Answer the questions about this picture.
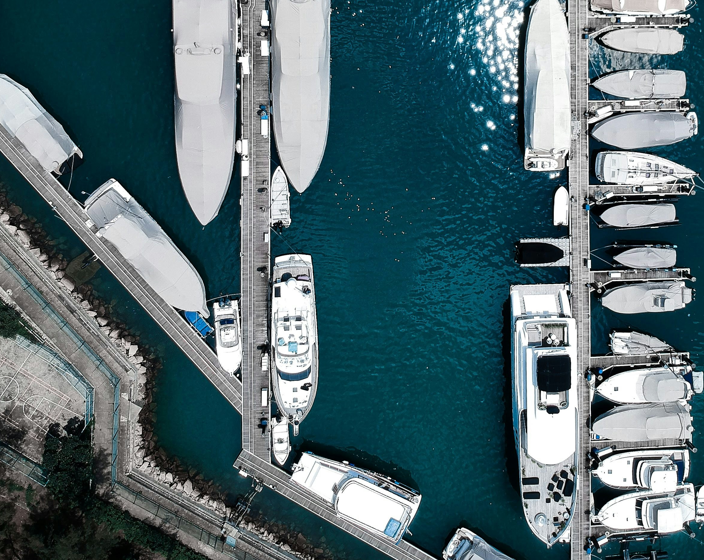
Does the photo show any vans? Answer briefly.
No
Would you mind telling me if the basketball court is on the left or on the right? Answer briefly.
left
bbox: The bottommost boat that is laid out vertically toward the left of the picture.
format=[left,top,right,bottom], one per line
[273,413,289,465]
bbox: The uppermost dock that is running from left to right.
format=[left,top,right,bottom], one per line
[589,15,689,36]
